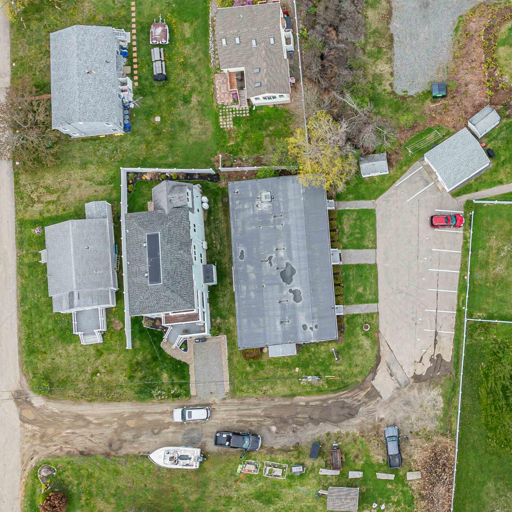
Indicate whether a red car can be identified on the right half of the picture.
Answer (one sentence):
Yes, the scene does show a red car on the right half of the picture.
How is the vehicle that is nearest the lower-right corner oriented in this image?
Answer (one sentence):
Seen from above, the vehicle that is nearest the lower-right corner lies up and down.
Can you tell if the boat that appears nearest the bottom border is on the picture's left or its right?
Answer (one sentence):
You can find the boat that appears nearest the bottom border on the left side of the picture.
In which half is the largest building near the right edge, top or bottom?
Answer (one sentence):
The top half of the photo is where the largest building near the right edge is.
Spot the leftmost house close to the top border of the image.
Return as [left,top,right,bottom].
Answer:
[51,25,137,133]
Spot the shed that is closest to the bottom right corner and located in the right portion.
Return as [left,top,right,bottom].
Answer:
[318,486,359,512]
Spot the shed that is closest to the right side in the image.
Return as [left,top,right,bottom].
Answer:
[468,105,500,138]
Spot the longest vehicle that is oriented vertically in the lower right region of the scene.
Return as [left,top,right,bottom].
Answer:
[383,425,404,469]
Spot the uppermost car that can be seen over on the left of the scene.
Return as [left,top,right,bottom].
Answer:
[173,405,213,423]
